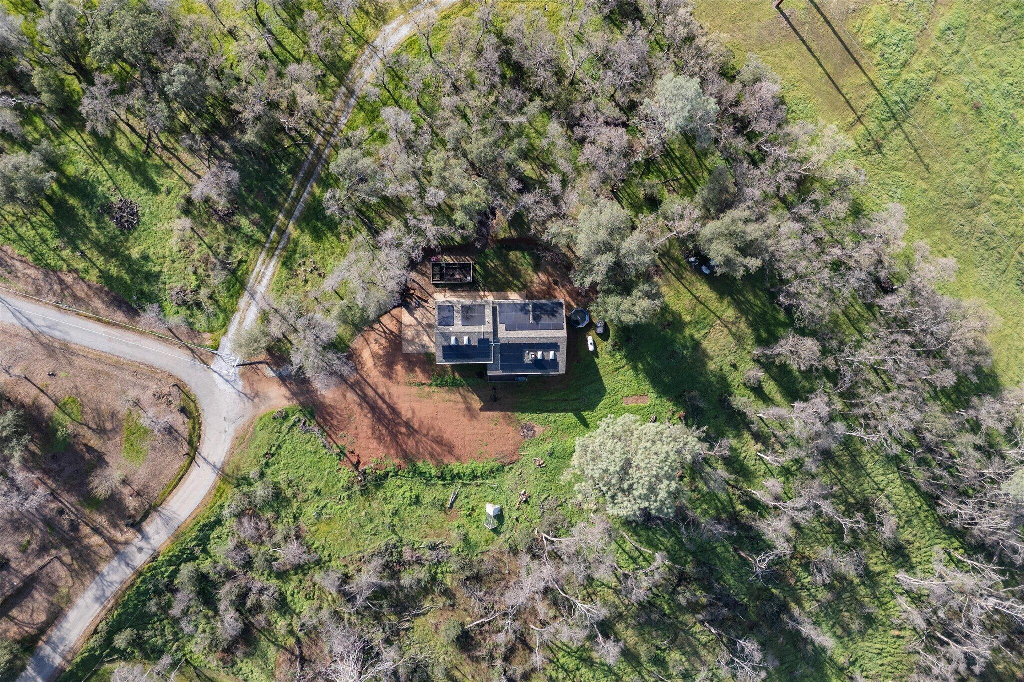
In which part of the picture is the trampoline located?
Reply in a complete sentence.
You can find the trampoline in the center area of the picture.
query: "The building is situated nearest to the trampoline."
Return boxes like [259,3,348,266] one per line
[434,299,567,382]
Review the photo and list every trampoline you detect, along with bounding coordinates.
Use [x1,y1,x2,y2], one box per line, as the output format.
[570,306,592,328]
